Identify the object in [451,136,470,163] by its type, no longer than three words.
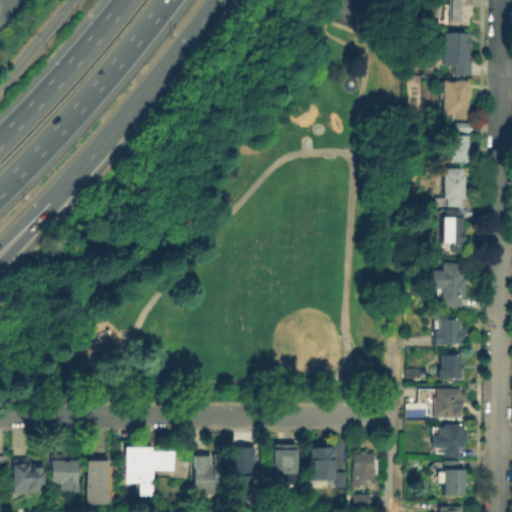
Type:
house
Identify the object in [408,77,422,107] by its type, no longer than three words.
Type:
building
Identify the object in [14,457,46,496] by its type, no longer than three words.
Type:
house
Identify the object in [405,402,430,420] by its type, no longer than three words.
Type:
building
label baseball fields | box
[178,156,348,394]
